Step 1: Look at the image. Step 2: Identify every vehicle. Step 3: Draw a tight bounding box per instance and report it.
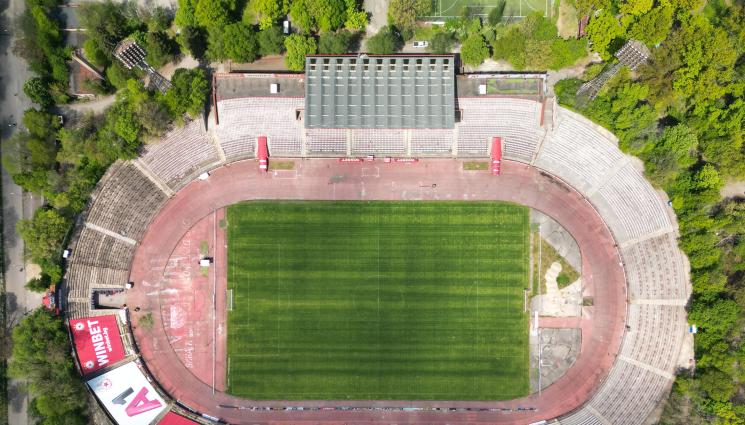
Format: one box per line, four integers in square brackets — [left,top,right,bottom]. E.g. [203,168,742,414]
[283,20,290,36]
[413,41,428,48]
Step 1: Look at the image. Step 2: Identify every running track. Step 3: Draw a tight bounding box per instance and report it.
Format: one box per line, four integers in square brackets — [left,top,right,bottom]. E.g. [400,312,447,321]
[129,158,626,425]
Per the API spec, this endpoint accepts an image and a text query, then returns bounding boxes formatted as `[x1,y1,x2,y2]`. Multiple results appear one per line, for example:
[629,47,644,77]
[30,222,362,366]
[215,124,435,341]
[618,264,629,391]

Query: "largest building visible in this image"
[71,55,110,100]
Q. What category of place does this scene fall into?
sports ground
